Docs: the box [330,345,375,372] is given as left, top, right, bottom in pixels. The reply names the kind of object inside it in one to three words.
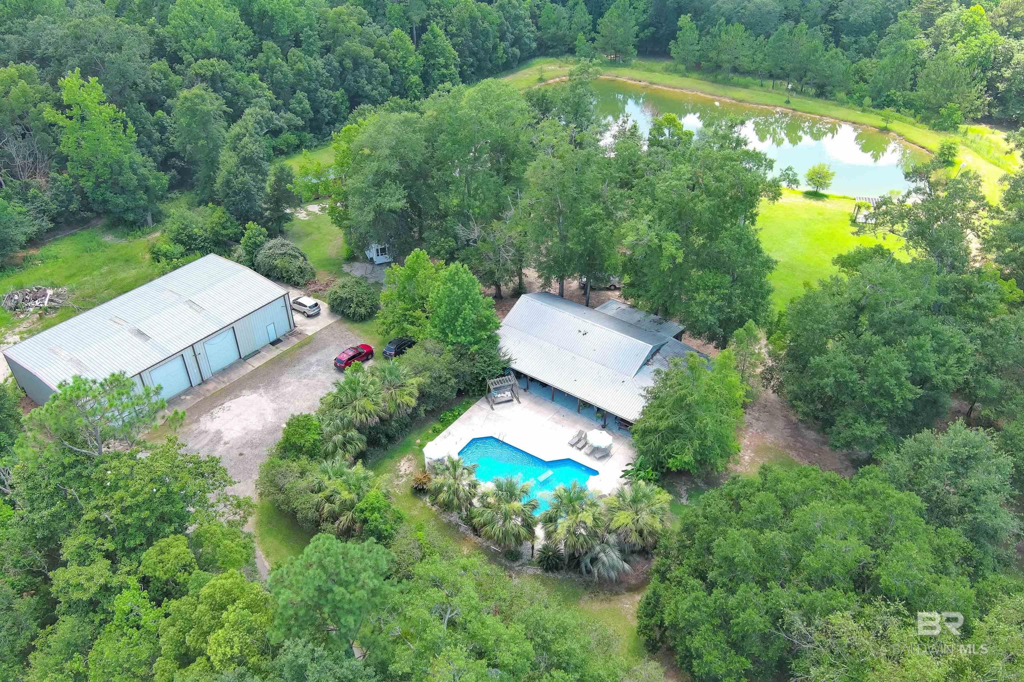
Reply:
car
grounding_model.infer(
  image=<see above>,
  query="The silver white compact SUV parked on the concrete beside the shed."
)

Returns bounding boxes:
[291,296,321,318]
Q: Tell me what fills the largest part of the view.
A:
trees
